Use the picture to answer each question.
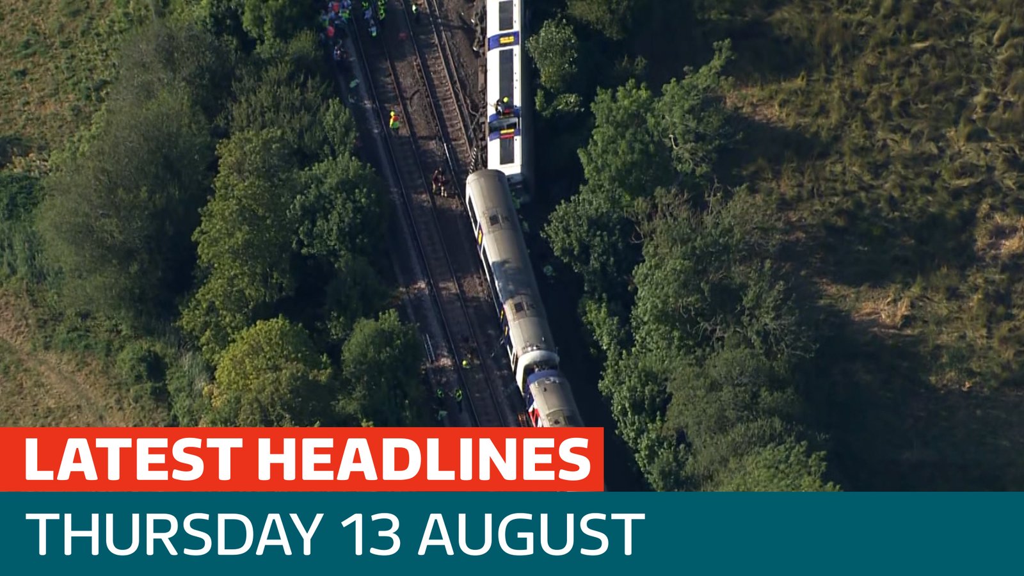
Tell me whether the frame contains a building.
No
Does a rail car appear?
Yes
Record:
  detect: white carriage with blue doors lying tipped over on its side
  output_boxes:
[474,0,535,209]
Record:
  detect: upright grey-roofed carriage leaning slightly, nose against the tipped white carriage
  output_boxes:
[461,169,561,390]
